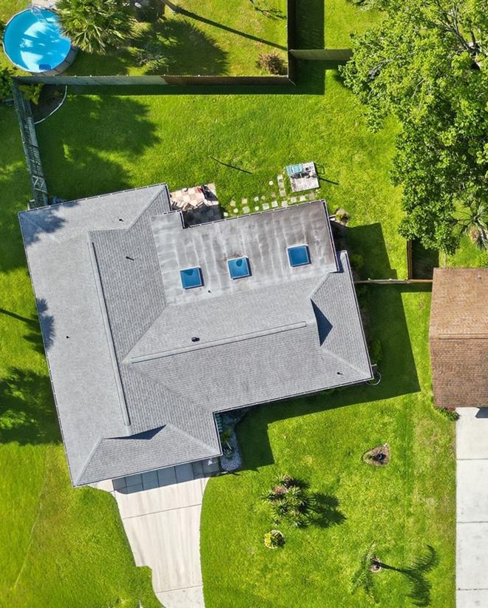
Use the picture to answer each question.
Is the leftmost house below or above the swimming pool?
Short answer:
below it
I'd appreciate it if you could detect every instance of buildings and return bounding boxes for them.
[17,181,375,490]
[427,268,488,408]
